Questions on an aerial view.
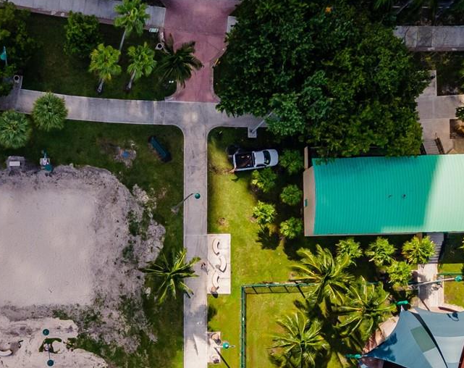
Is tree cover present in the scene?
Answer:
Yes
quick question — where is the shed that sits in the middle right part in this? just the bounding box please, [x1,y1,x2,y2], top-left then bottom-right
[303,153,464,239]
